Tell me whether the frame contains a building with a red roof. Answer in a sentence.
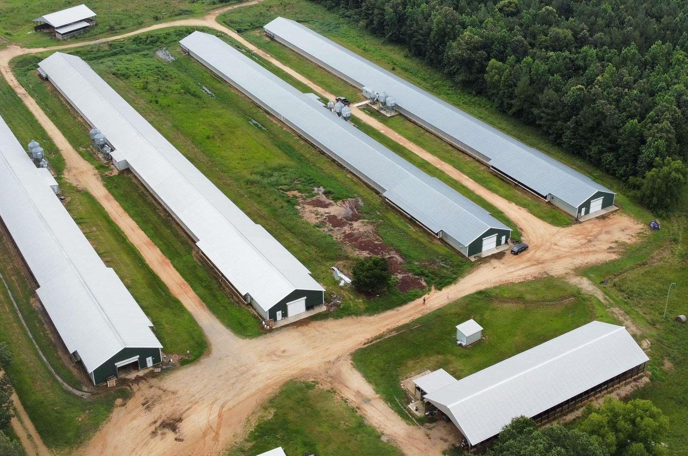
No, there is no building with a red roof in the image.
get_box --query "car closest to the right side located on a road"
[512,242,533,254]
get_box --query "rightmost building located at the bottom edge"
[413,321,649,456]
